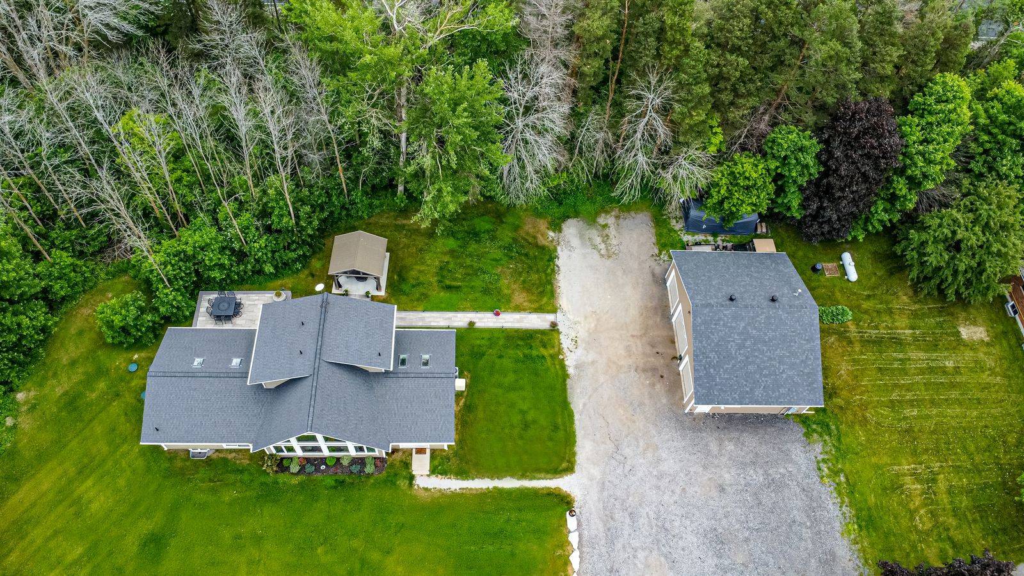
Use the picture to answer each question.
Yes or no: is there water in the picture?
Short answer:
No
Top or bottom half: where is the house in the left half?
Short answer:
bottom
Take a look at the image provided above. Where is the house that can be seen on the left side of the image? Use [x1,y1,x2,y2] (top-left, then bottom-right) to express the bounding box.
[141,293,456,458]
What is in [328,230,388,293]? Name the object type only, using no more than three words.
gazebo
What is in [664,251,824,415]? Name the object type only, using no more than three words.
building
